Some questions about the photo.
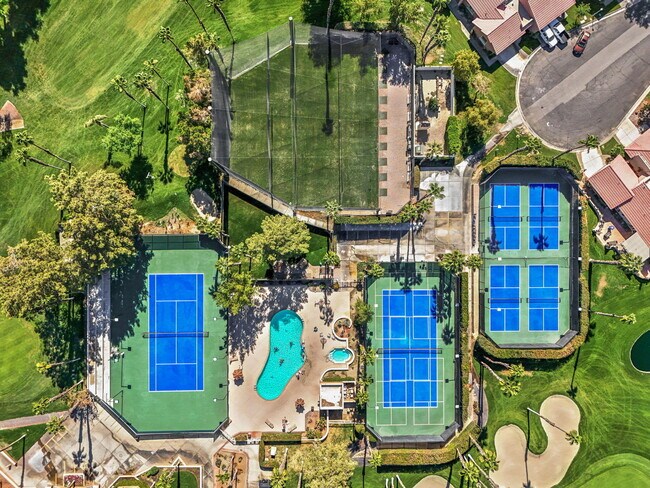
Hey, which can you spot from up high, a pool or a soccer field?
pool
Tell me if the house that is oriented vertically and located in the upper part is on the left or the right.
right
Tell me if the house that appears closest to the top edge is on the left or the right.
right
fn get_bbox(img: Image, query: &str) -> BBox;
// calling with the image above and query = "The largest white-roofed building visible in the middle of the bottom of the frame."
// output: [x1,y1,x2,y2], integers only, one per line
[320,381,343,409]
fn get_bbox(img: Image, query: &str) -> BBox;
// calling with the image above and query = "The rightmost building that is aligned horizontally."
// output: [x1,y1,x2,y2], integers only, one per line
[448,0,577,58]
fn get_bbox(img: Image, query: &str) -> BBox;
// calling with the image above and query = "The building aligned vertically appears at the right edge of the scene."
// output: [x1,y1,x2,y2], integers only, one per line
[581,108,650,261]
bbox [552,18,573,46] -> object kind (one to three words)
vehicle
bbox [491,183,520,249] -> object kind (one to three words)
sports court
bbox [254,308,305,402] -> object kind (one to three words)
swimming pool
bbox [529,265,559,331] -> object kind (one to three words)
sports court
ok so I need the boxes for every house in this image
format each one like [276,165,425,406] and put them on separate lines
[448,0,577,58]
[581,108,650,261]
